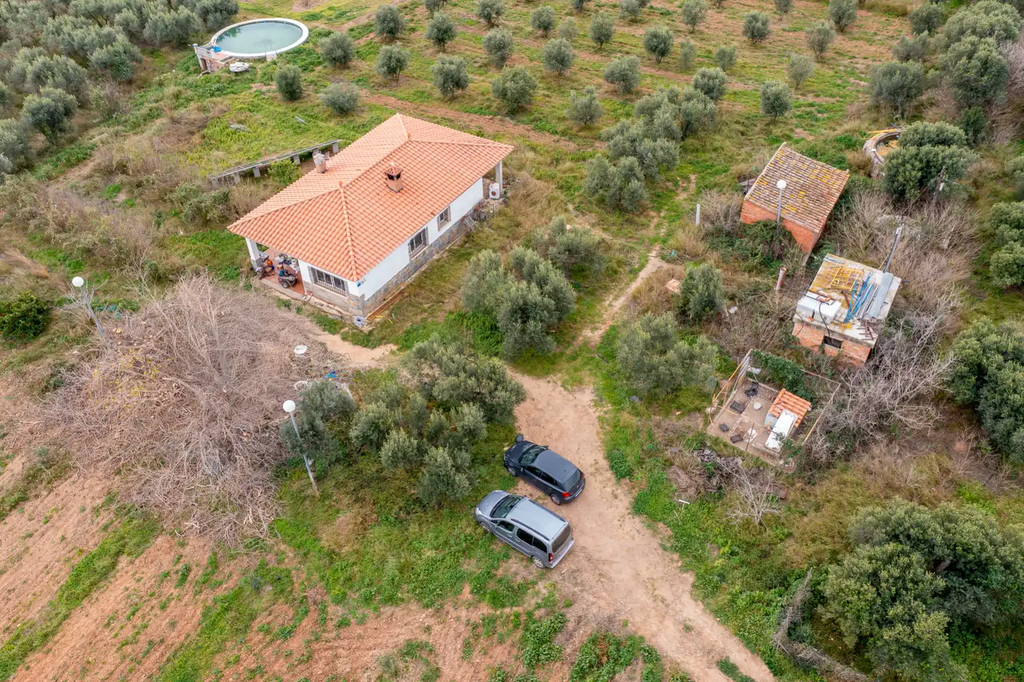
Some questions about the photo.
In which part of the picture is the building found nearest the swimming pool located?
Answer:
top left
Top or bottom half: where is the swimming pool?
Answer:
top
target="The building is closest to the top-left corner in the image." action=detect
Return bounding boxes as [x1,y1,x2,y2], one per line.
[179,33,236,69]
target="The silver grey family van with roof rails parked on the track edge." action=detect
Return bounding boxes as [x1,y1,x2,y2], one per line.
[473,487,576,570]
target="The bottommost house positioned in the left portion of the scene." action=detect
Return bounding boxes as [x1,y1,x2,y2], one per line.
[227,112,514,319]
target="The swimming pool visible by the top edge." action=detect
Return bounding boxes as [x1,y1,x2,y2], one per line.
[214,18,308,64]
